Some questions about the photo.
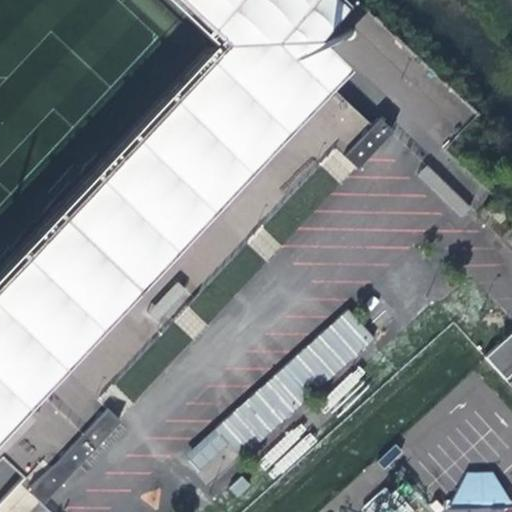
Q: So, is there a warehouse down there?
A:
Yes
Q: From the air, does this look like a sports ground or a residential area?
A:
sports ground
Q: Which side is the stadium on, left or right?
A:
left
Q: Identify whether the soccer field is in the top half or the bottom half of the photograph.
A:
top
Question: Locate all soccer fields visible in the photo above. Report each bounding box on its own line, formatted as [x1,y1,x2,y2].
[0,0,189,230]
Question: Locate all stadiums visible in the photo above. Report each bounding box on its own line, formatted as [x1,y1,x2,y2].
[0,0,356,450]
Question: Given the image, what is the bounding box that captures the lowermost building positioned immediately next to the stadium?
[30,408,120,500]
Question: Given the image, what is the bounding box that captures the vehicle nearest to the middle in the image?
[364,296,381,314]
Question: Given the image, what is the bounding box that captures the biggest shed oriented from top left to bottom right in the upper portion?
[418,166,472,218]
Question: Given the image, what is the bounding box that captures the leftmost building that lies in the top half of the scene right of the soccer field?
[344,118,394,168]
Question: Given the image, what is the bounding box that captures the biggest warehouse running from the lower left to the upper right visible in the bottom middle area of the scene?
[189,310,374,482]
